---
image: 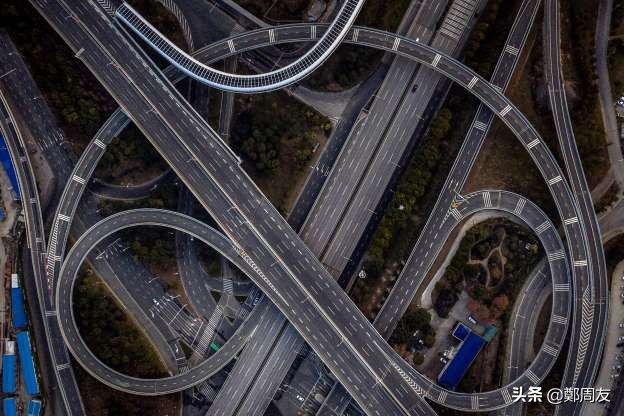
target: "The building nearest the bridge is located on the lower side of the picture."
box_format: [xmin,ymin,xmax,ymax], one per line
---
[438,329,486,390]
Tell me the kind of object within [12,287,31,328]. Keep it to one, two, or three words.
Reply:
shed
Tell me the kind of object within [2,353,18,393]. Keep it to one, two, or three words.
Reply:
shed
